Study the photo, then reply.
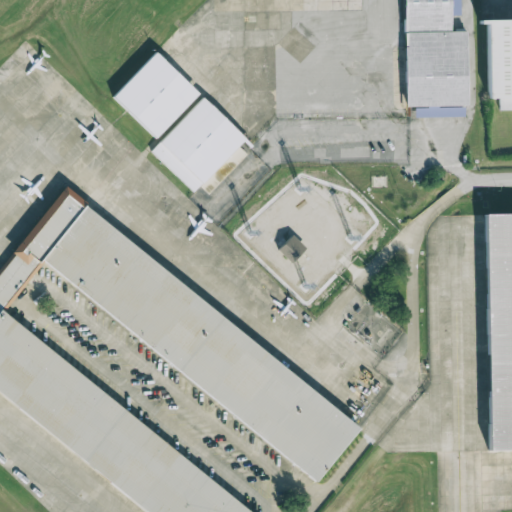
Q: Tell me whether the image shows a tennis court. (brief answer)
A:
No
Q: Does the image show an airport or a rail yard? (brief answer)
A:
airport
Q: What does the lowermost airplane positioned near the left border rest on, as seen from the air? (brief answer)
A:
apron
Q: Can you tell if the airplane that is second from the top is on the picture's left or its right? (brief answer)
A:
left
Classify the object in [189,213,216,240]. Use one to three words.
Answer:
airplane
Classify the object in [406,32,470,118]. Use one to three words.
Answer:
building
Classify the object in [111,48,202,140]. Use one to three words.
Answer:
hangar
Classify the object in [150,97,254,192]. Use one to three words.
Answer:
hangar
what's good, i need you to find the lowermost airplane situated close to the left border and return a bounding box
[20,178,44,202]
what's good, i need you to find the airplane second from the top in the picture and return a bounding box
[80,120,105,144]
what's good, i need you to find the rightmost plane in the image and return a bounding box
[275,296,300,318]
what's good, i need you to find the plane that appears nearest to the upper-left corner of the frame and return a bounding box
[27,48,53,74]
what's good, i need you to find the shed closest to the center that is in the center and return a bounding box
[278,234,308,263]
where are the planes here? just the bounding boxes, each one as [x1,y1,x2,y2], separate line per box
[20,178,44,202]
[80,120,105,144]
[27,48,53,74]
[275,296,300,318]
[189,213,216,240]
